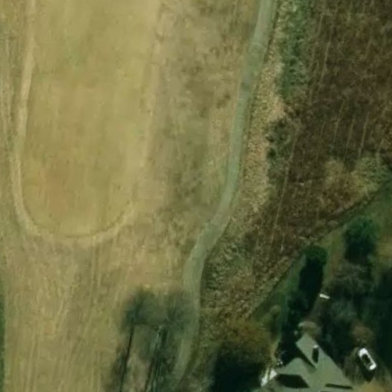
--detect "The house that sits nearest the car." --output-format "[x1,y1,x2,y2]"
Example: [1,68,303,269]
[248,330,360,392]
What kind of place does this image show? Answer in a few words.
golf course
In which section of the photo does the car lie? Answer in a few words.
bottom right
